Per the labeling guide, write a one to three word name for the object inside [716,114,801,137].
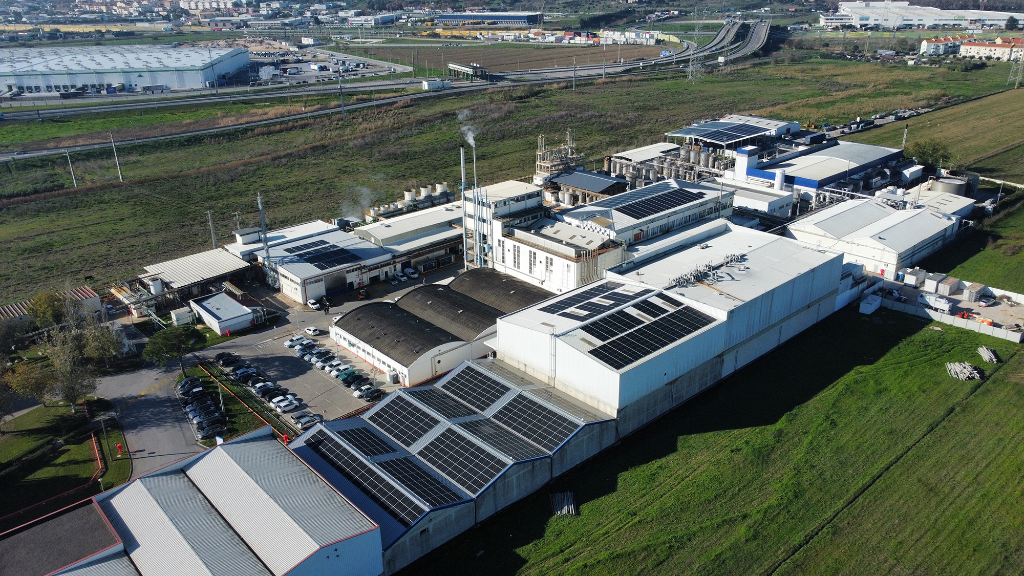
building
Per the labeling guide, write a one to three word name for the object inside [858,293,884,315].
shed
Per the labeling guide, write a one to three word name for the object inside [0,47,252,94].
building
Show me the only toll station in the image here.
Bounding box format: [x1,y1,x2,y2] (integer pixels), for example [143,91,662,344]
[447,62,490,81]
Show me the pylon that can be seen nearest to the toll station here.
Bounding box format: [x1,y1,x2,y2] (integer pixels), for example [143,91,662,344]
[532,3,547,47]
